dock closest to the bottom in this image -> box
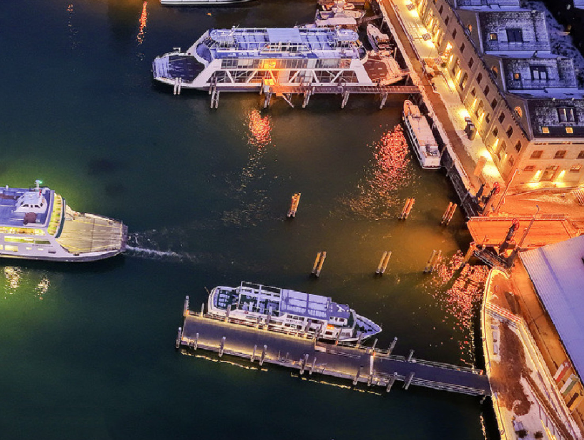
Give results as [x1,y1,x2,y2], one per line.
[179,305,484,395]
